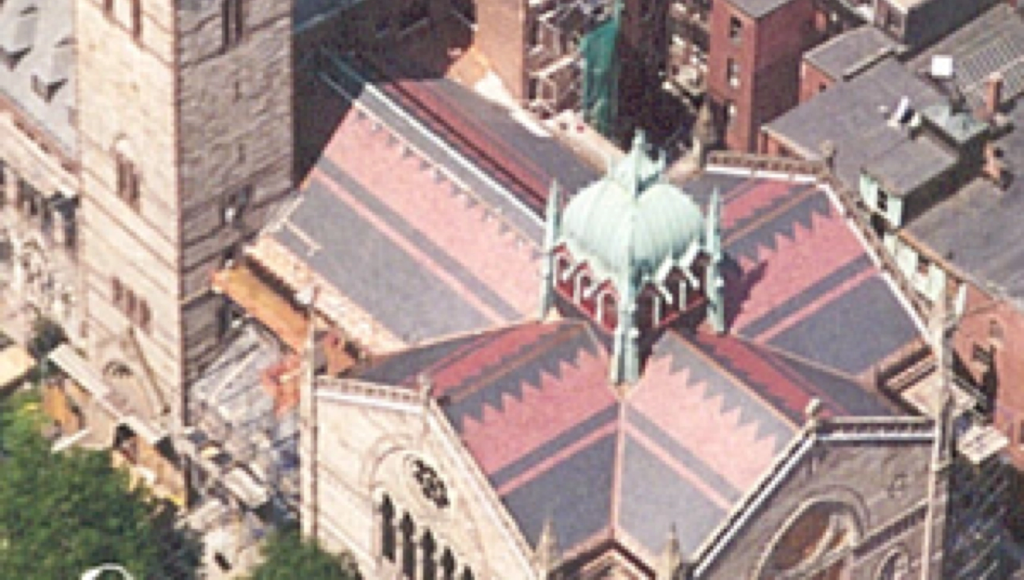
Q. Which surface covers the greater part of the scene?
buildings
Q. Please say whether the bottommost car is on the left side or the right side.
left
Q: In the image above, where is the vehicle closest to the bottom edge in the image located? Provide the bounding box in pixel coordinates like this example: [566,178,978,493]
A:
[189,533,235,572]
